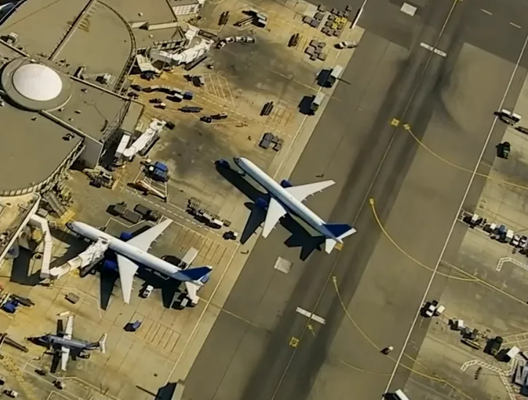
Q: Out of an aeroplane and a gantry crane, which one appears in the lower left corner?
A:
aeroplane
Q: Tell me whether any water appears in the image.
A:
No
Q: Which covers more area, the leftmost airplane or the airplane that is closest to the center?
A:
the airplane that is closest to the center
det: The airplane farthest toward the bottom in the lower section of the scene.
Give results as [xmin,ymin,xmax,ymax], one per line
[30,320,97,373]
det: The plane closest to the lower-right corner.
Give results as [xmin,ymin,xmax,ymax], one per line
[234,158,355,251]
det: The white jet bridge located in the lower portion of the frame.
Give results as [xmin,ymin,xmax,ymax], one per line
[31,215,113,283]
